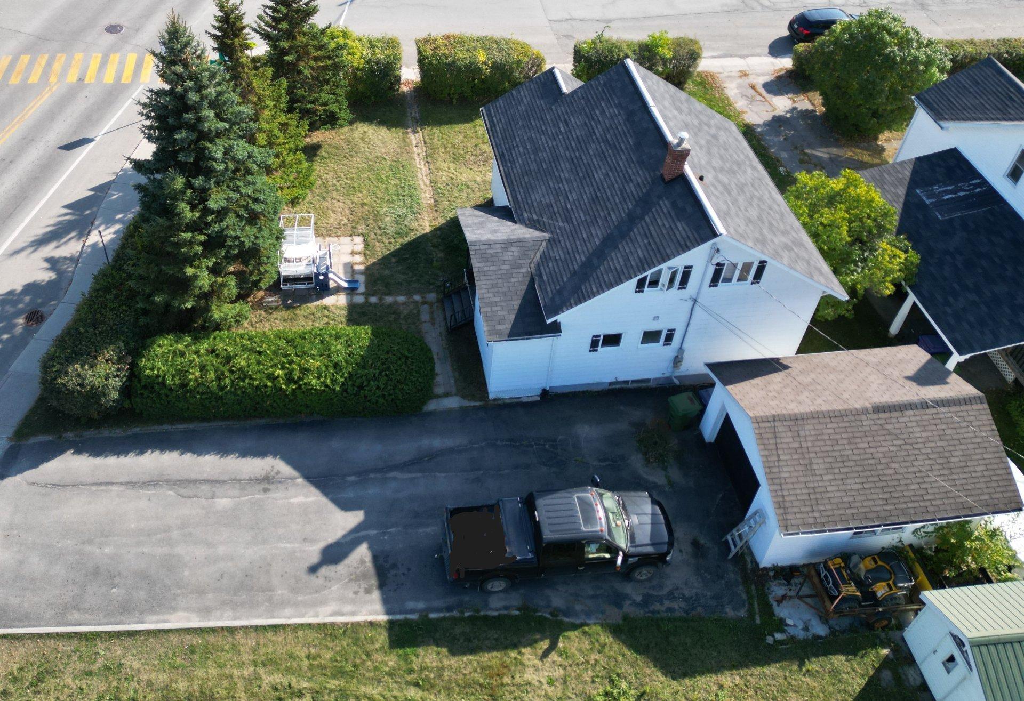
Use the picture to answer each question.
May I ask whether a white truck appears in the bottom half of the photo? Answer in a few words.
No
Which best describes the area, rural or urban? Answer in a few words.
urban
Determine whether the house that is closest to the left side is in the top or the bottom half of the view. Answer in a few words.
top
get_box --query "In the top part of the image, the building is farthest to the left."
[438,59,850,400]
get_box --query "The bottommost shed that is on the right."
[904,576,1024,701]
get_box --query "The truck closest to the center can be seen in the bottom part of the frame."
[433,481,676,594]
